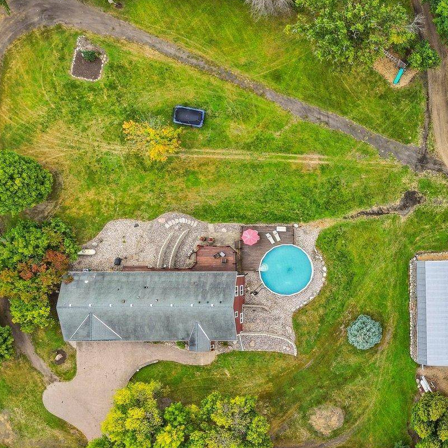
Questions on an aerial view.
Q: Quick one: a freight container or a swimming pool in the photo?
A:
swimming pool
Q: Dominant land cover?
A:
grass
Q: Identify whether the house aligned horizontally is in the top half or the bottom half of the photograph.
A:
bottom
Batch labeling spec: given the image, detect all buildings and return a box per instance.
[415,258,448,366]
[53,272,245,352]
